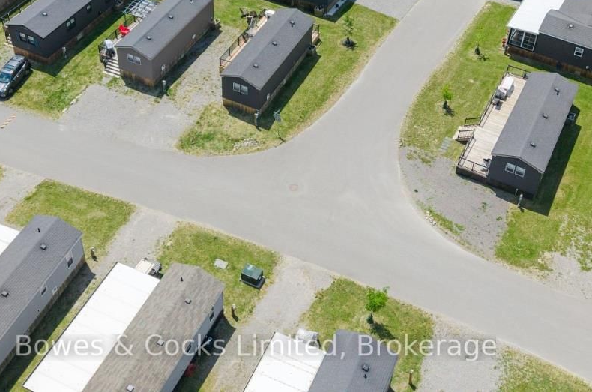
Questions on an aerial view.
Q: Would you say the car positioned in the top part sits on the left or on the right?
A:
left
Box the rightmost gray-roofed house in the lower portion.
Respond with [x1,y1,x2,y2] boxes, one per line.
[310,330,398,392]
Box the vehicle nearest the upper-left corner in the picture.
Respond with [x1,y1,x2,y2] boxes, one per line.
[0,57,30,98]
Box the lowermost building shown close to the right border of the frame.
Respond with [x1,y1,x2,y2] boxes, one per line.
[488,73,578,199]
